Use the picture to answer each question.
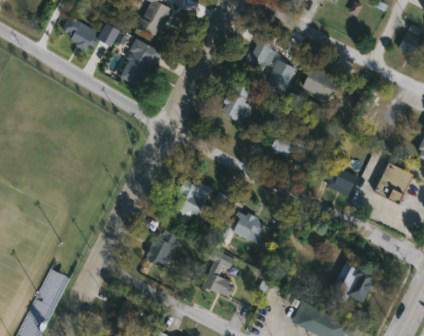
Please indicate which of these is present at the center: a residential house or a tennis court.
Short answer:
residential house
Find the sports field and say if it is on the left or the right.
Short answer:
left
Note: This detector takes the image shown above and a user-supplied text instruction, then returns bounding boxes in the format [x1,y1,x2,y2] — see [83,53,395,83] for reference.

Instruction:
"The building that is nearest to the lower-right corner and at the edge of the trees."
[334,262,374,302]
